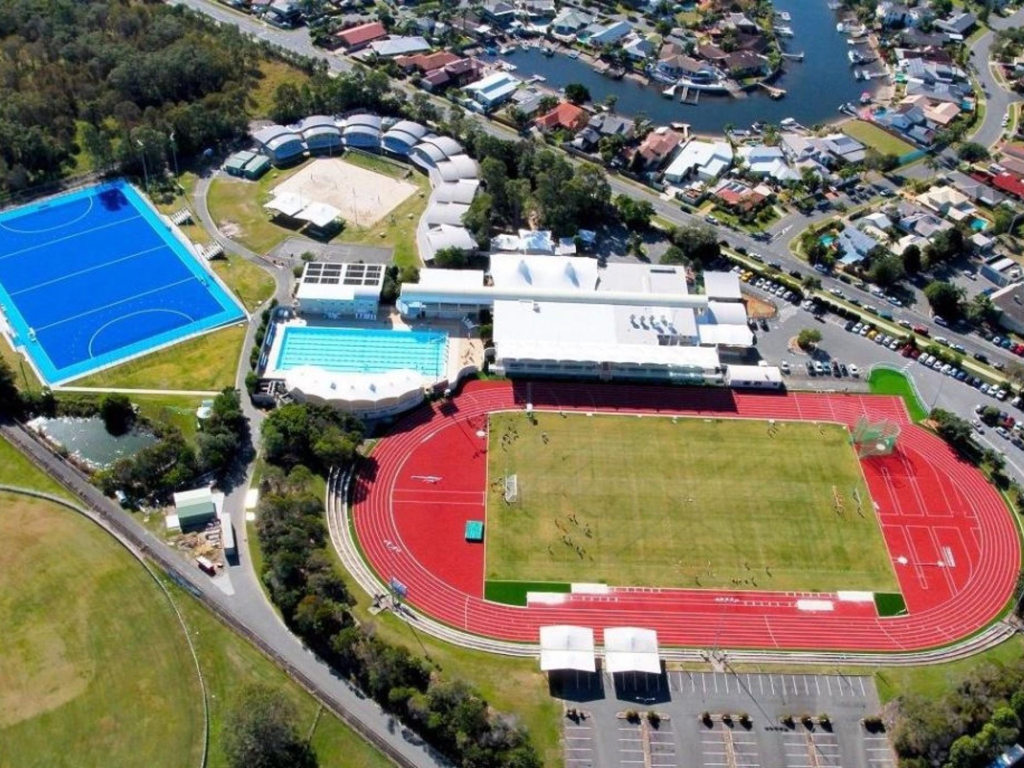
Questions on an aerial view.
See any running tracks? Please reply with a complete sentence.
Yes, looking at the shot, I can spot a running track.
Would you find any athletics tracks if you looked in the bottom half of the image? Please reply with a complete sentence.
Yes, I can see an athletics track in the bottom half of the image.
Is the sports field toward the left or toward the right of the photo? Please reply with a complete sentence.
The sports field sits on the left side.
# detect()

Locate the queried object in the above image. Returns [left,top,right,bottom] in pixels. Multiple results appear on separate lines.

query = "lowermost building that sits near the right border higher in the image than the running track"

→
[995,311,1024,360]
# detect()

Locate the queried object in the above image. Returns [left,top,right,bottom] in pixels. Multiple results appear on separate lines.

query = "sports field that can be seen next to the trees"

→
[0,190,226,369]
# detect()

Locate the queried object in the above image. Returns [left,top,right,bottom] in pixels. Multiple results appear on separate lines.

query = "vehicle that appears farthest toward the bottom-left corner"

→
[196,551,219,575]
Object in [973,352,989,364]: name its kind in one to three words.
vehicle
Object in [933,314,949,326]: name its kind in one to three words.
vehicle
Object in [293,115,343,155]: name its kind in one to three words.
building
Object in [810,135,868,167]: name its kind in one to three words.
house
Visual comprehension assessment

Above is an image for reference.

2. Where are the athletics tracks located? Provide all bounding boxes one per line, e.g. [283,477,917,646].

[353,388,1022,651]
